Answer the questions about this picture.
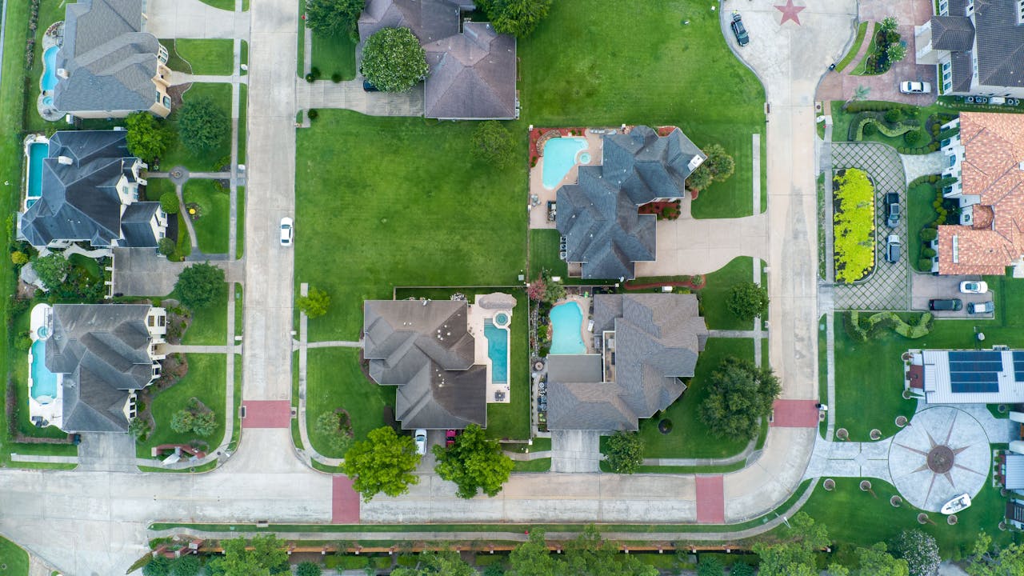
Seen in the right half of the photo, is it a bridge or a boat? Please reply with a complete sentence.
There is a boat in the right half of the photo.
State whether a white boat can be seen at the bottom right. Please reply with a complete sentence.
Yes, a white boat can be seen at the bottom right.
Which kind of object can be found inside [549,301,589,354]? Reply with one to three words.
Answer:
swimming pool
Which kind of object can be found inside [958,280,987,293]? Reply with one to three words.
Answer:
vehicle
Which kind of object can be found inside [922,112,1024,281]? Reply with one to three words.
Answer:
house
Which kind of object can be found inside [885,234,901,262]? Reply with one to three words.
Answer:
car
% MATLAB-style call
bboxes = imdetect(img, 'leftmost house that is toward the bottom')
[45,304,173,433]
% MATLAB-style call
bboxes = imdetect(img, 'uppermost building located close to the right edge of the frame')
[906,0,1024,97]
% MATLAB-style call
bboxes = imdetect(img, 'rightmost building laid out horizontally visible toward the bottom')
[905,348,1024,405]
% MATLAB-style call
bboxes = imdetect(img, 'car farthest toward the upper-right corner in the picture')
[899,79,930,93]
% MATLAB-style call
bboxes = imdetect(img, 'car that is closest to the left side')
[279,218,293,246]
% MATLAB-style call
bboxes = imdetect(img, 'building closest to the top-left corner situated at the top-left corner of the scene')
[54,0,178,117]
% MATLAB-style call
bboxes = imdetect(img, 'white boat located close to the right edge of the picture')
[936,491,974,515]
